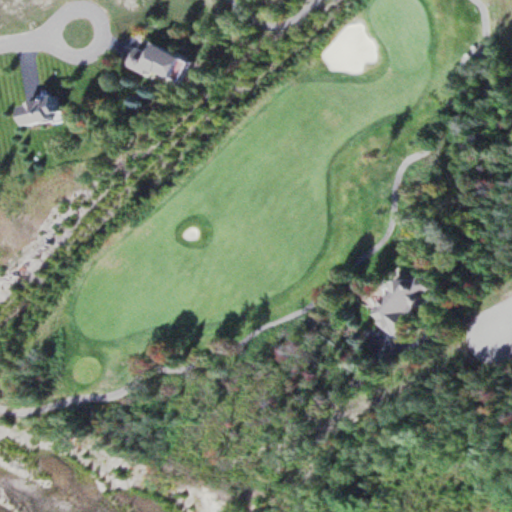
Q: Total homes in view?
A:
3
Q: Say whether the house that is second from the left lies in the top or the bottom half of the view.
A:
top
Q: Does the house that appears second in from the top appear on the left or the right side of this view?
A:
left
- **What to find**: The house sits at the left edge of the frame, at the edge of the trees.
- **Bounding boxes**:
[10,89,64,130]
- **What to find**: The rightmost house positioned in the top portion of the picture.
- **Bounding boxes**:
[121,36,186,82]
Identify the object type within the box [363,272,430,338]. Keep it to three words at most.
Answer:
house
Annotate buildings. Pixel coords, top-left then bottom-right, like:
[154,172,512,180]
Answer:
[10,89,64,130]
[363,272,430,338]
[121,36,186,82]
